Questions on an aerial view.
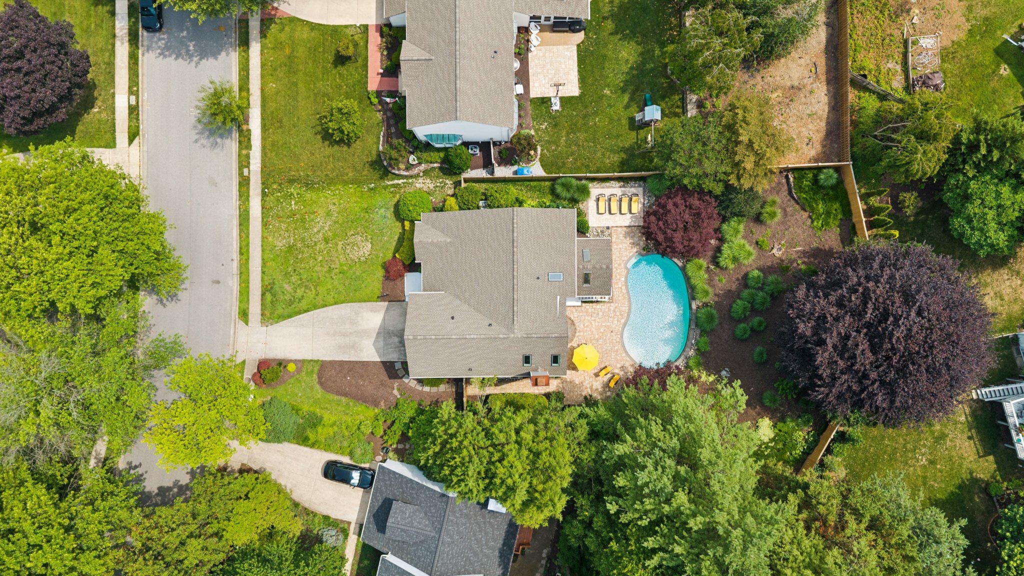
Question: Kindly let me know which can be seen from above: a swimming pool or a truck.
swimming pool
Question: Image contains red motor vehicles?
No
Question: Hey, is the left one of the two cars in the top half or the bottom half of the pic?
top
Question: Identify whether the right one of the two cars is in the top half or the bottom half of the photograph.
bottom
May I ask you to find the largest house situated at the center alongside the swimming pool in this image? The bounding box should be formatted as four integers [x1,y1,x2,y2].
[405,208,613,387]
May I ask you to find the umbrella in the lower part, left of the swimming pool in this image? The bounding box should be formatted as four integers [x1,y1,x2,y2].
[572,344,599,371]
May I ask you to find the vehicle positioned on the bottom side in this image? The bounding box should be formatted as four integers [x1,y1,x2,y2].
[321,456,376,488]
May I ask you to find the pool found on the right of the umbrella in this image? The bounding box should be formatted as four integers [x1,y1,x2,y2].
[619,249,696,372]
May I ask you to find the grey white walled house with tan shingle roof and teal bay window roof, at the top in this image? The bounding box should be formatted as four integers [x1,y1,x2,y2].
[382,0,592,149]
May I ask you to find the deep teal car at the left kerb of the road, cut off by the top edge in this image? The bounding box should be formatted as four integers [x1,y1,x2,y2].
[137,0,166,28]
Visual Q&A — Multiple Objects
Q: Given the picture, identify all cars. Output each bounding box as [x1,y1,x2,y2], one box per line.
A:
[137,0,166,28]
[321,456,376,488]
